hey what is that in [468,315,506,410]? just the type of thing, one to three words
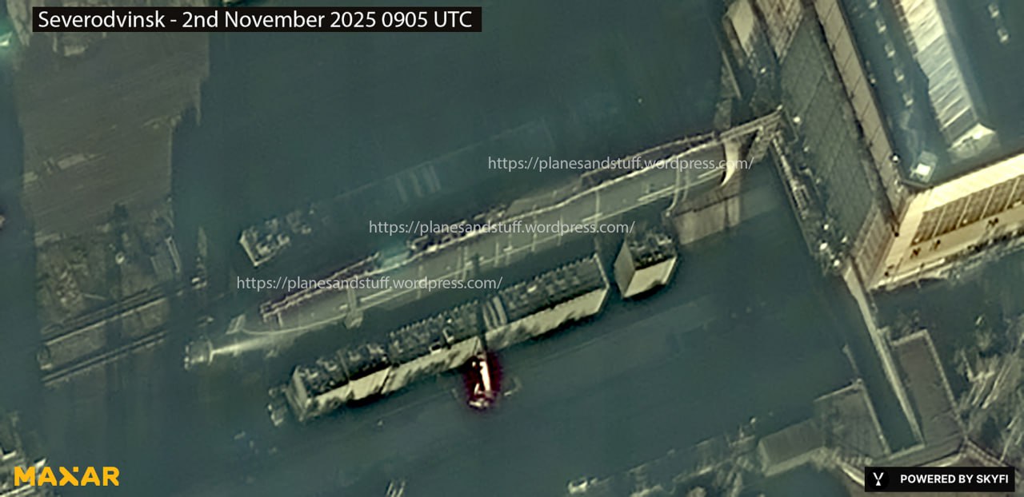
boat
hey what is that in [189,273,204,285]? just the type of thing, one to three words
boat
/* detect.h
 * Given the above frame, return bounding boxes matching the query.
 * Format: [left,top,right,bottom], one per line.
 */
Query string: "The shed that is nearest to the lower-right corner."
[756,417,831,475]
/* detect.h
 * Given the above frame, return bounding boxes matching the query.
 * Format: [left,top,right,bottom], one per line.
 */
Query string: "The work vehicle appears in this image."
[972,311,988,330]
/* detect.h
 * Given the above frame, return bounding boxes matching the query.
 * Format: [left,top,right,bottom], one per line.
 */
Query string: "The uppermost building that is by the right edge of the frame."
[752,0,1024,291]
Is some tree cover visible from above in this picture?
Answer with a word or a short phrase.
No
